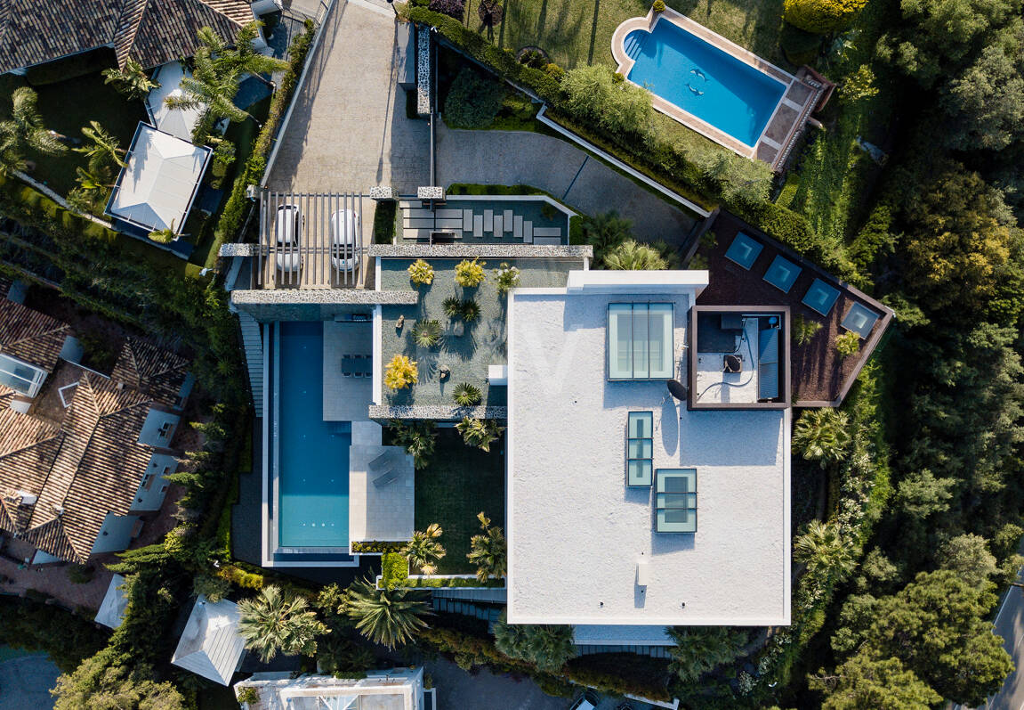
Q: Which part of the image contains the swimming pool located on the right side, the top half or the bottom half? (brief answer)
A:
top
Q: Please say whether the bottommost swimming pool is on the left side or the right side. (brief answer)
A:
left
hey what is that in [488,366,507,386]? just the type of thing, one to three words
chimney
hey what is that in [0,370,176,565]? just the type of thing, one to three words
house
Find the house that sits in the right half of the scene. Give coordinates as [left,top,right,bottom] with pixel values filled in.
[502,271,791,644]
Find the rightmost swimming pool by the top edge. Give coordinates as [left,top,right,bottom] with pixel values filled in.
[606,0,799,158]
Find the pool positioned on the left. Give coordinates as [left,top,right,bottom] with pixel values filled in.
[263,320,366,565]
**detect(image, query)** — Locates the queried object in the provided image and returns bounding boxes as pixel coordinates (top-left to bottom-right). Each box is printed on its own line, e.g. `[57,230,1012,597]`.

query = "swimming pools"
[263,320,366,565]
[606,0,799,158]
